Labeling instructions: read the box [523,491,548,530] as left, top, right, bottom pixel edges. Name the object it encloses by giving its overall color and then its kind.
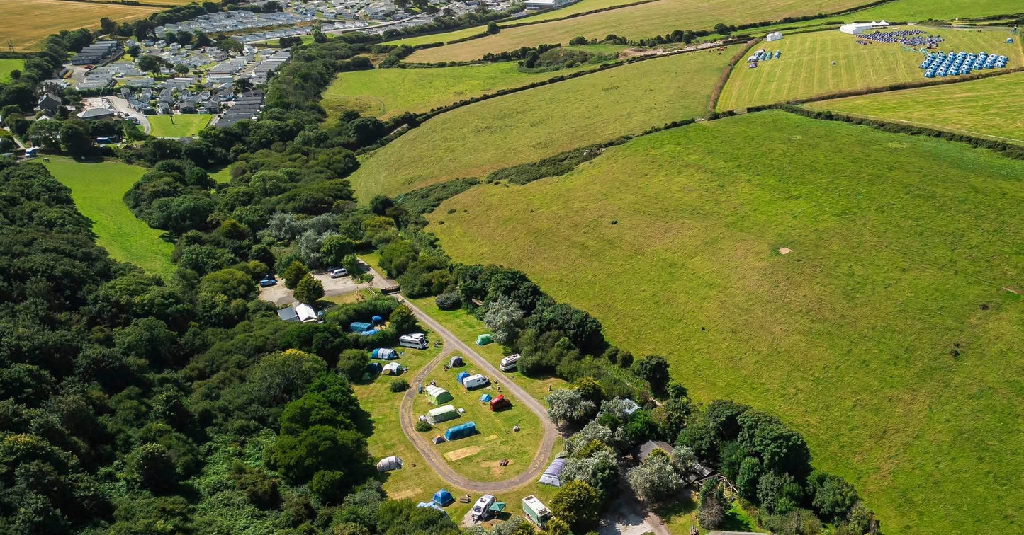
white truck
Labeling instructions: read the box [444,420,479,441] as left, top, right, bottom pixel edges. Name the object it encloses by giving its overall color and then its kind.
blue tent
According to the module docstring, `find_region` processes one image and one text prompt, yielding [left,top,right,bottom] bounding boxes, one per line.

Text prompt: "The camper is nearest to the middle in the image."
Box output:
[496,352,523,375]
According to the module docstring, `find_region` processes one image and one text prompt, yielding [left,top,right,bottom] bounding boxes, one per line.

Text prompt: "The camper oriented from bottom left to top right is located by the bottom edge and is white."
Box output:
[471,494,494,526]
